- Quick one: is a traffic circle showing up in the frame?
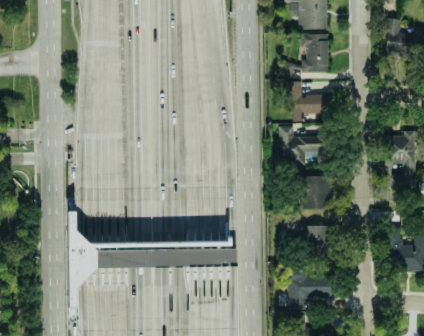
No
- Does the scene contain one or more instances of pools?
No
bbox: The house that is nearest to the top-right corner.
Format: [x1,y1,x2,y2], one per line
[388,18,406,52]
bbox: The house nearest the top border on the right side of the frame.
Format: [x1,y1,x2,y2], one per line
[278,0,328,30]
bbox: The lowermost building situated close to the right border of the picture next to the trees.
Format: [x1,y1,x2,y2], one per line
[392,225,424,272]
